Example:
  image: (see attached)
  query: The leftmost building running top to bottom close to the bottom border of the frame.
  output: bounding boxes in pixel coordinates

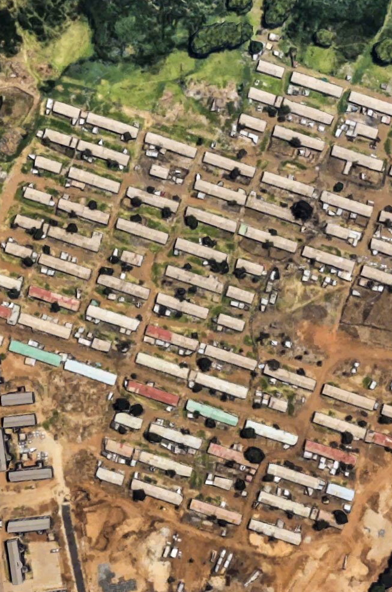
[7,540,30,585]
